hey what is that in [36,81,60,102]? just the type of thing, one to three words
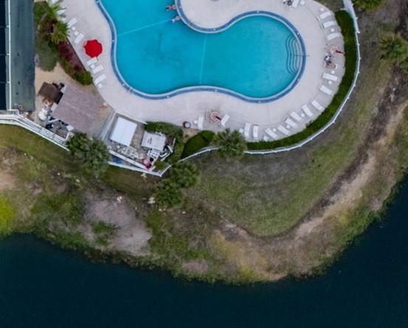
shed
